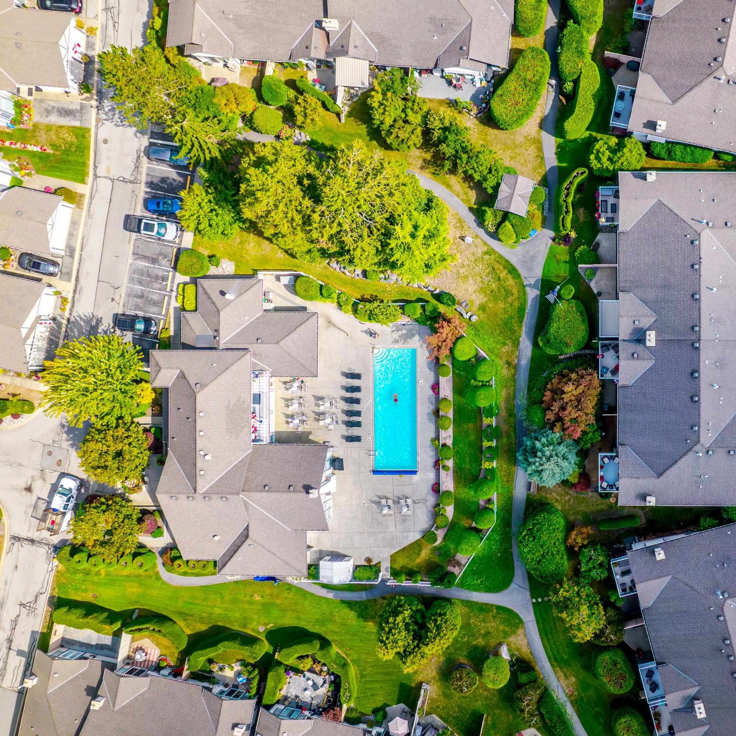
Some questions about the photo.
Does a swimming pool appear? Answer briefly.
Yes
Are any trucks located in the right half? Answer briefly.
No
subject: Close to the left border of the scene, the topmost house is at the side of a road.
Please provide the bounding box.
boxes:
[0,0,86,91]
